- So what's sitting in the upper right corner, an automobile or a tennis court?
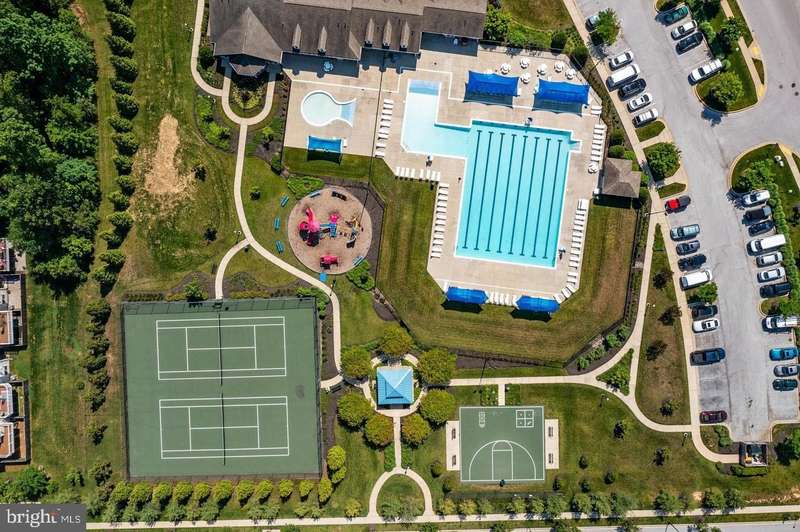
automobile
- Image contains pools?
Yes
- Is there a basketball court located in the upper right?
No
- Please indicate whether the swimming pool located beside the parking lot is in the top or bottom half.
top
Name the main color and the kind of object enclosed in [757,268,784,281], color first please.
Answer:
white vehicle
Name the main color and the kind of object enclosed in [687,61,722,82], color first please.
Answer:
white truck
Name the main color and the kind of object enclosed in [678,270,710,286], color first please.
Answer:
white vehicle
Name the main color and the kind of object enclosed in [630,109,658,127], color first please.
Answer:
white car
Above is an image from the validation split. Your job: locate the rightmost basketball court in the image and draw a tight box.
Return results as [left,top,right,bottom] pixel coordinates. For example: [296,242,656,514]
[459,406,545,482]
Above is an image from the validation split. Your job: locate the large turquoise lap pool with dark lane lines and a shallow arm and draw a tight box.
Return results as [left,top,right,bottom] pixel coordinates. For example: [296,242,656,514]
[399,77,584,270]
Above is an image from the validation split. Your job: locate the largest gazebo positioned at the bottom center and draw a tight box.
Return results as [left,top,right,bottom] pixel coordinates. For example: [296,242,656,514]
[377,367,412,408]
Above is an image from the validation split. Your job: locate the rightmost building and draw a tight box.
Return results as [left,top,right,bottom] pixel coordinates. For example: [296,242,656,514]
[600,158,641,198]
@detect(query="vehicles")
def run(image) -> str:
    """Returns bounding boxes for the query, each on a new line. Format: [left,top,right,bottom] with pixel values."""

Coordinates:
[698,410,727,423]
[758,283,791,297]
[660,5,691,25]
[583,12,609,30]
[689,349,725,363]
[674,241,701,254]
[626,95,652,112]
[617,80,645,98]
[755,252,781,266]
[757,268,784,281]
[746,236,788,252]
[687,61,722,82]
[691,319,720,332]
[630,109,658,127]
[605,66,639,87]
[674,34,704,53]
[768,348,797,360]
[607,52,634,70]
[670,226,702,240]
[740,206,774,223]
[746,220,777,234]
[676,255,706,270]
[762,316,797,330]
[689,305,719,319]
[663,195,693,211]
[741,192,771,207]
[678,270,710,286]
[670,20,698,40]
[771,378,797,391]
[773,364,799,377]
